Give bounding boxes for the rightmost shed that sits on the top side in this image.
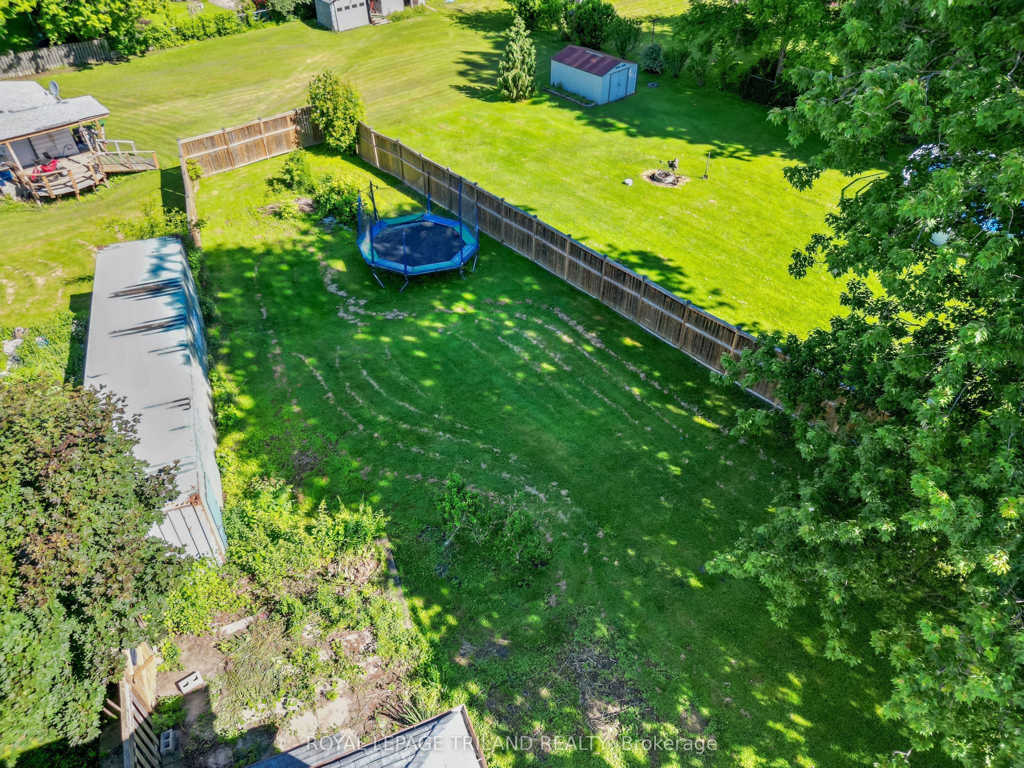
[545,42,643,105]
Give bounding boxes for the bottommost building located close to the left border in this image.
[0,78,162,208]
